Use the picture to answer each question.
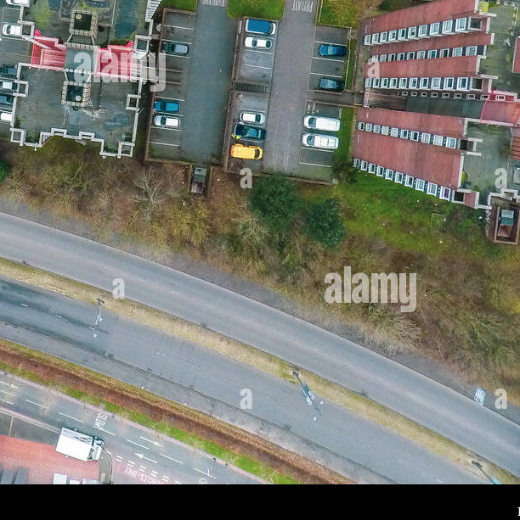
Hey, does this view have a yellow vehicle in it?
Yes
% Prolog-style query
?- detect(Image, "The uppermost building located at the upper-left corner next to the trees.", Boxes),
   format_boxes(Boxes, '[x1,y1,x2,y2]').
[9,0,162,158]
